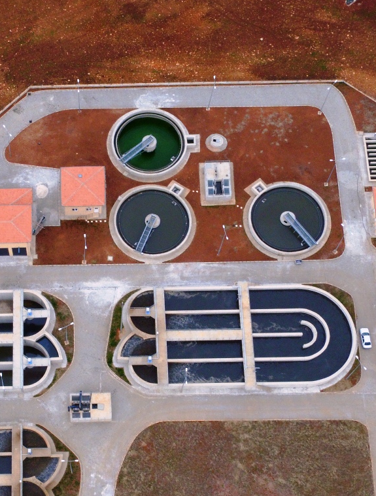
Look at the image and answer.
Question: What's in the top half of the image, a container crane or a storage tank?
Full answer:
You can see a storage tank in the top half of the image.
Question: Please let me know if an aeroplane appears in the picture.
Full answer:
No, I can see no aeroplane in this picture.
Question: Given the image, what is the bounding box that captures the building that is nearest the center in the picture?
[198,159,236,206]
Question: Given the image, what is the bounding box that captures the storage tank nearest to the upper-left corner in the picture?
[107,108,202,182]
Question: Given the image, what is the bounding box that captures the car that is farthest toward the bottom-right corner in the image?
[361,327,374,348]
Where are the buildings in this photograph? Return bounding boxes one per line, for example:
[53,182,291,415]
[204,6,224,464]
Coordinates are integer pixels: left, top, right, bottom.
[0,187,36,266]
[364,185,376,238]
[198,159,236,206]
[60,166,107,219]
